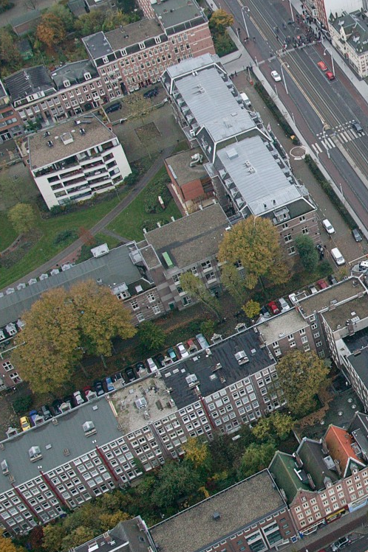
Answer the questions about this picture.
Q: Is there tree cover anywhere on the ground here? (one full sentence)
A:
Yes, some tree cover is visible.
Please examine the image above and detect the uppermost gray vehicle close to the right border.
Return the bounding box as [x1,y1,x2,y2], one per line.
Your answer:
[351,119,363,134]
